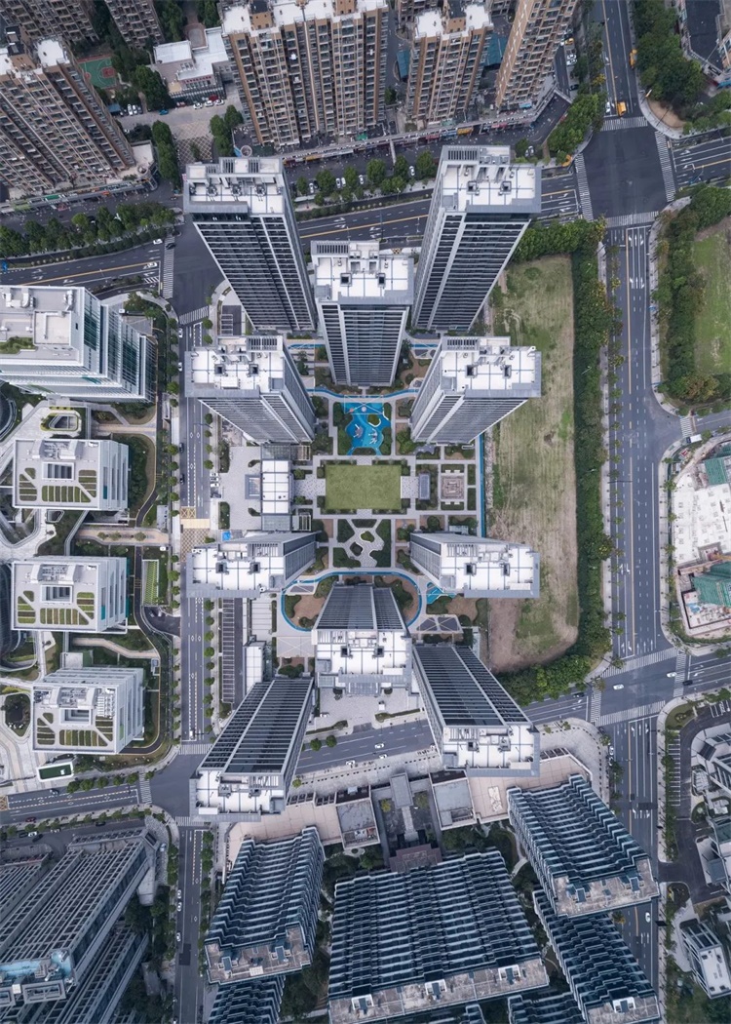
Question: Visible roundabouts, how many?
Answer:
0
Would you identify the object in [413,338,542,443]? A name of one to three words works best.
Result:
building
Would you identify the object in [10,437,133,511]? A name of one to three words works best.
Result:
building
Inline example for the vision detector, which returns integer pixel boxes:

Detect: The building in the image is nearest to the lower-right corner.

[681,919,731,999]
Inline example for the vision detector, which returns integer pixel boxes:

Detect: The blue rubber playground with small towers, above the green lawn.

[344,400,390,459]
